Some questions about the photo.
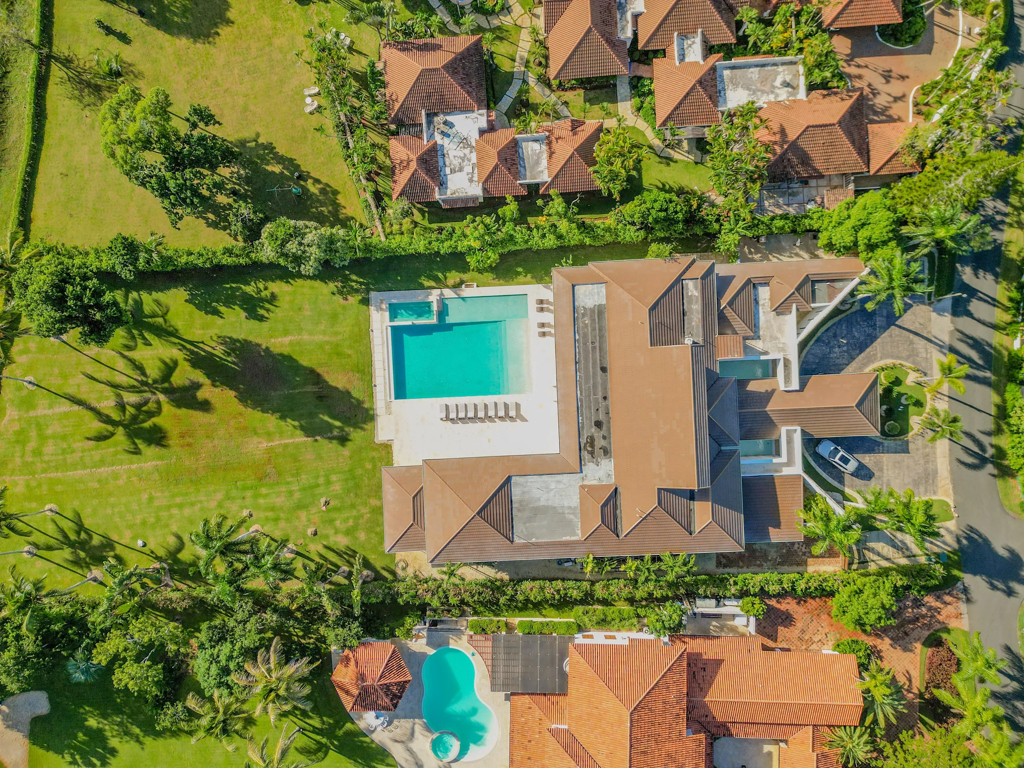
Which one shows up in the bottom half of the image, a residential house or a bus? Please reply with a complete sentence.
The one visible in the bottom half of the image is a residential house.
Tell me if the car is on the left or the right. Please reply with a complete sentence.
The car sits on the right side.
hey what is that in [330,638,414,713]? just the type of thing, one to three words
gazebo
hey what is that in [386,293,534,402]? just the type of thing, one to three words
swimming pool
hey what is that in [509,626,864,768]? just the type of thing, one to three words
house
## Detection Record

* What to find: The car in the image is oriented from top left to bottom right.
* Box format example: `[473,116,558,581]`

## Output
[810,438,863,478]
